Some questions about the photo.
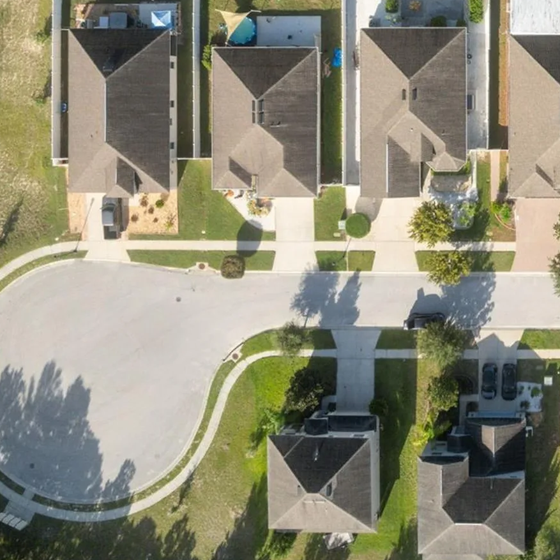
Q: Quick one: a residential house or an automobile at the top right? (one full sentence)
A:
What appears at the top right is a residential house.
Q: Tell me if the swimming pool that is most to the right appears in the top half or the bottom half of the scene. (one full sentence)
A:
The swimming pool that is most to the right is in the top half of the image.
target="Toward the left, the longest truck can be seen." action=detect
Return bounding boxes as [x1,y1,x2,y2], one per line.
[96,199,117,242]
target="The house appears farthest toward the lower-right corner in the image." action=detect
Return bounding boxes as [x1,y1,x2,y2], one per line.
[418,413,526,560]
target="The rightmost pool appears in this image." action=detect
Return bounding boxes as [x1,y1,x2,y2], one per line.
[230,17,260,47]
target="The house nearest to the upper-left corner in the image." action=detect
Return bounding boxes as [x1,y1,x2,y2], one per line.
[67,29,181,200]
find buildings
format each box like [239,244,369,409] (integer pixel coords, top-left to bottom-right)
[67,29,181,200]
[212,48,323,197]
[267,409,381,534]
[509,0,560,199]
[418,413,526,560]
[360,28,467,199]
